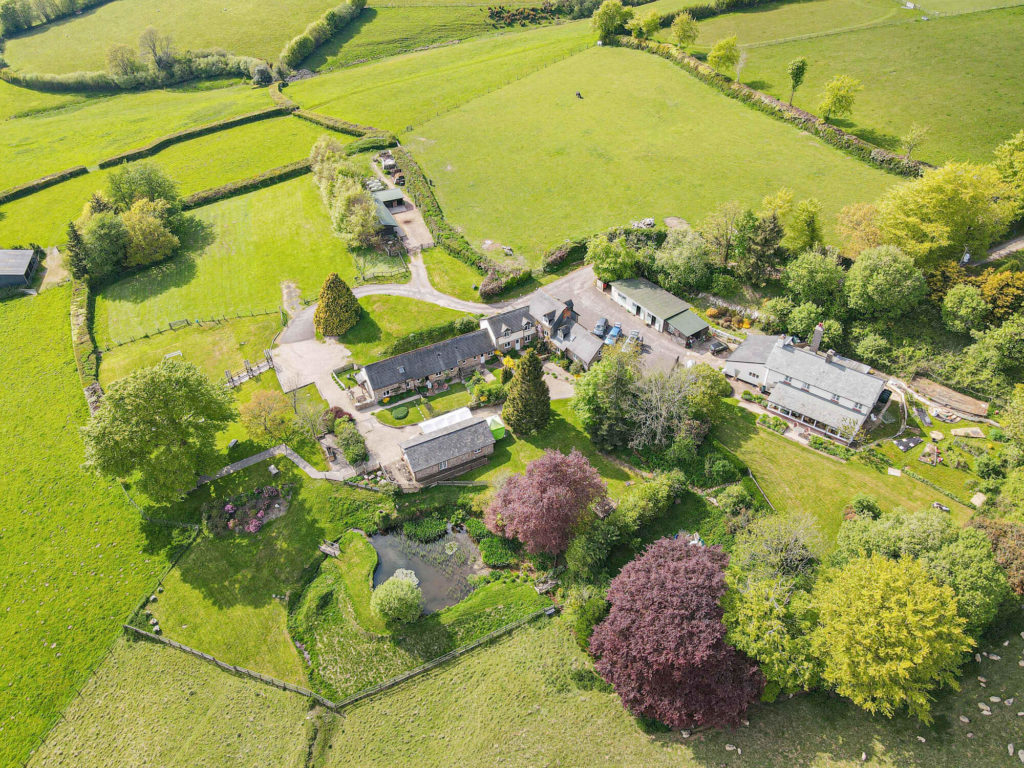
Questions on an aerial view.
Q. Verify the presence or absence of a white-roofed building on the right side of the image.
Yes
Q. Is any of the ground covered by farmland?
Yes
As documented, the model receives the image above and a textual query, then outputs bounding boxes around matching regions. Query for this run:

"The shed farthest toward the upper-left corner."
[0,251,53,291]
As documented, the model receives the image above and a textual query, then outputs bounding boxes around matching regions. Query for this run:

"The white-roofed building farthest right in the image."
[726,329,885,444]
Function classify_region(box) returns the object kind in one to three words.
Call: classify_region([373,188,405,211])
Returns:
shed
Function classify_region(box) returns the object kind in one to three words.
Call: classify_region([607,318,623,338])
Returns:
car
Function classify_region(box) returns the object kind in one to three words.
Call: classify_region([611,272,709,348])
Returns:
shed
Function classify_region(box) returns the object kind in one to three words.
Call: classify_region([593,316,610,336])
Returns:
car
